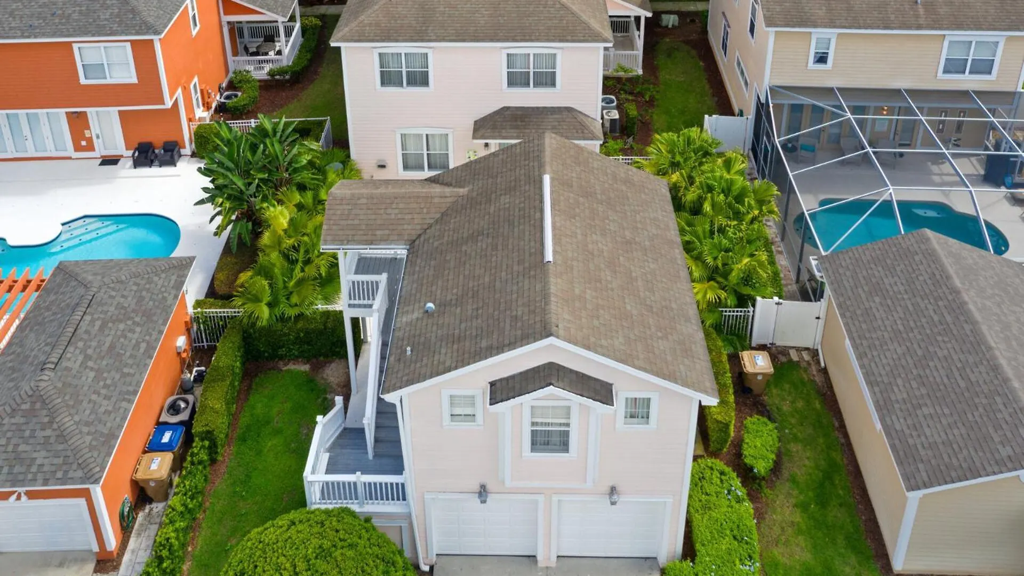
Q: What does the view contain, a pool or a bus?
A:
pool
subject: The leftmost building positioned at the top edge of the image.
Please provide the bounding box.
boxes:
[0,0,304,162]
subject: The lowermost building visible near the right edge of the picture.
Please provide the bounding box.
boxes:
[817,229,1024,576]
